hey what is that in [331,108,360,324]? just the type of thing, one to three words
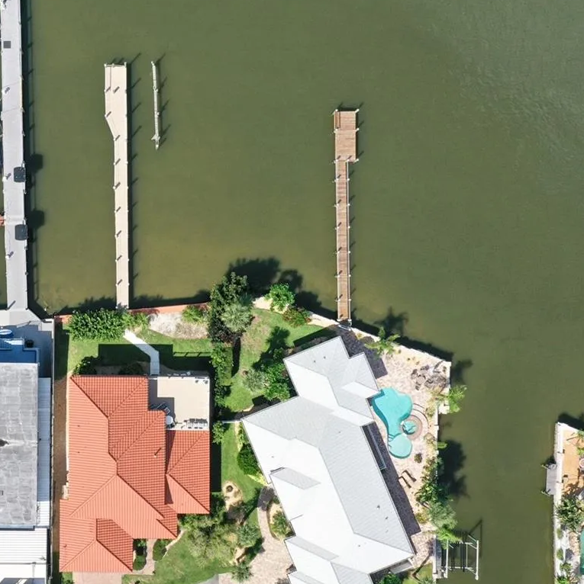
pier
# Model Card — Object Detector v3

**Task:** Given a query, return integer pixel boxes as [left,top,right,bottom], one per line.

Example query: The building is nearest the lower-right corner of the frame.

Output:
[241,336,416,584]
